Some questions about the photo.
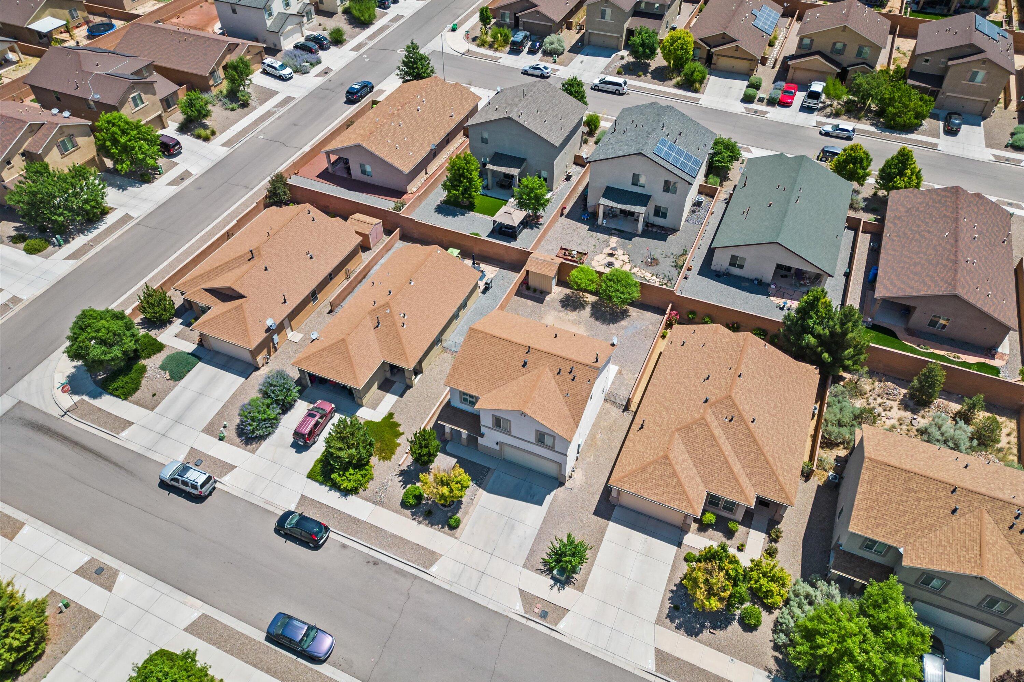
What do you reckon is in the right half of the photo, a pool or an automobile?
automobile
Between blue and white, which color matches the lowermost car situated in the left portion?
blue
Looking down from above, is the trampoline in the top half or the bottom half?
top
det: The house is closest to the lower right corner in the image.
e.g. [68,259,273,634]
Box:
[827,425,1024,647]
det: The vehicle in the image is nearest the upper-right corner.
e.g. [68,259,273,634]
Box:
[944,110,965,131]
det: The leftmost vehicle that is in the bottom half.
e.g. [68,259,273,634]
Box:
[156,460,216,499]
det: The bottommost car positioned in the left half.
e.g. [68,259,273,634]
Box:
[261,611,336,666]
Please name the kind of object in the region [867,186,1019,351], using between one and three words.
house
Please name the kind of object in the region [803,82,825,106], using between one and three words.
truck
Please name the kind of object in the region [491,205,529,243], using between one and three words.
gazebo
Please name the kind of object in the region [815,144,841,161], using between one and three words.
car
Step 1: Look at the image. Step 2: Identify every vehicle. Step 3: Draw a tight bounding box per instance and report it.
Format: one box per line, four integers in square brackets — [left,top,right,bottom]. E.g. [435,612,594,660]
[780,83,799,104]
[820,122,858,140]
[261,611,336,666]
[510,31,534,51]
[289,401,336,445]
[156,132,180,153]
[589,74,629,94]
[255,57,292,78]
[803,82,825,106]
[363,0,392,9]
[944,110,965,131]
[517,62,552,78]
[526,39,547,55]
[815,144,841,161]
[296,31,326,48]
[344,80,374,102]
[274,510,333,549]
[156,460,216,499]
[912,629,955,682]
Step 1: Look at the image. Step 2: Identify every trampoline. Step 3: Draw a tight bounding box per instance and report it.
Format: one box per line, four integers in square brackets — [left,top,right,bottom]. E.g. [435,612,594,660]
[83,13,115,35]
